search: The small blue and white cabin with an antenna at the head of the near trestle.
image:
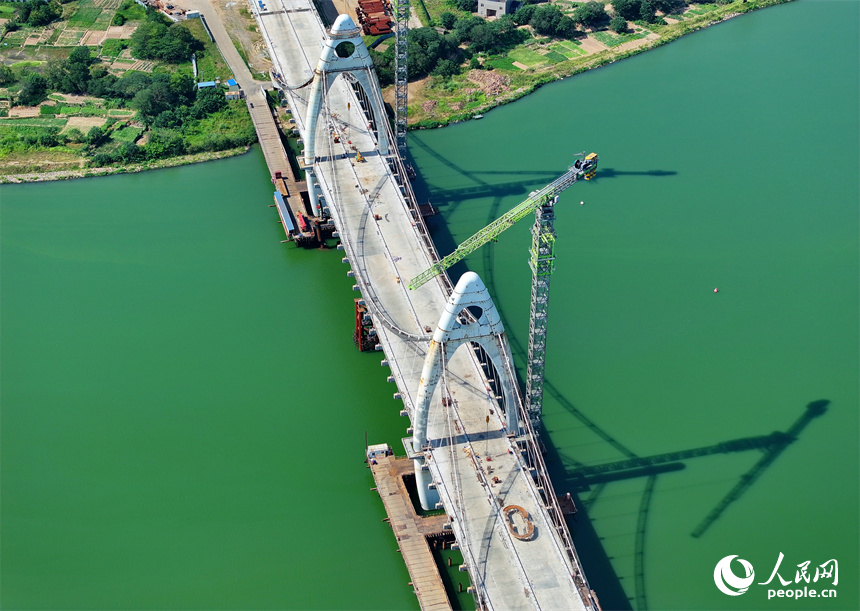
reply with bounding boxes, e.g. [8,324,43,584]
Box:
[364,431,389,461]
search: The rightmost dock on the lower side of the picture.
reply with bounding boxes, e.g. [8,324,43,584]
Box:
[366,454,456,611]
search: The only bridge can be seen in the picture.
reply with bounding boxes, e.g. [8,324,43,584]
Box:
[245,0,606,611]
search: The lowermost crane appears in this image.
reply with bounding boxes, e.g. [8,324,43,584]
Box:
[409,150,596,490]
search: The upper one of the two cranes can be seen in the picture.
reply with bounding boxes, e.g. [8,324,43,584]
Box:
[349,0,413,206]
